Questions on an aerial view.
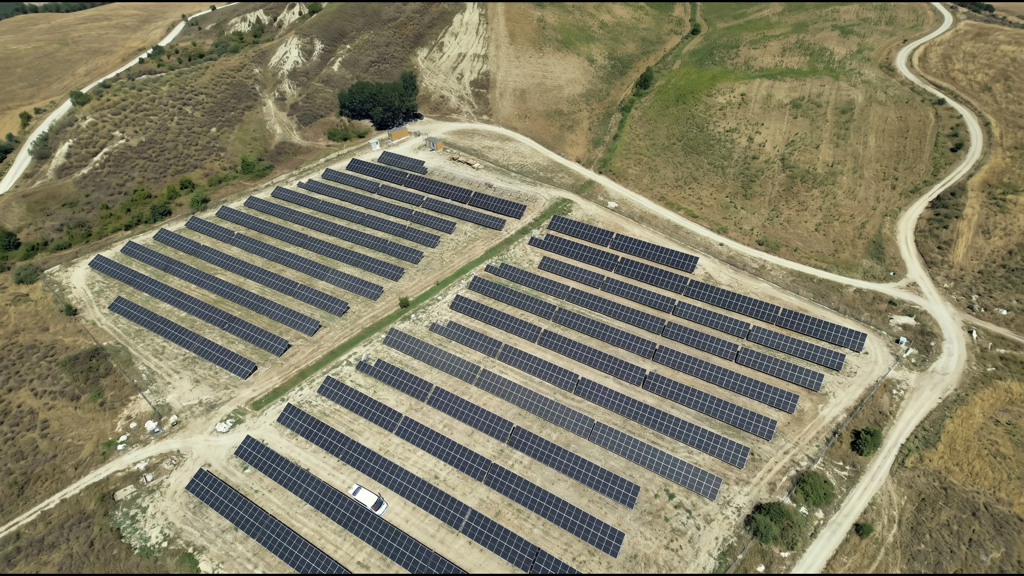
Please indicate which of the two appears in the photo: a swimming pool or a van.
van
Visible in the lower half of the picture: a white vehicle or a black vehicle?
white vehicle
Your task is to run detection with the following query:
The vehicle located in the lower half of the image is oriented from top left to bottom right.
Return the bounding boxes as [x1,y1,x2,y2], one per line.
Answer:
[347,480,390,514]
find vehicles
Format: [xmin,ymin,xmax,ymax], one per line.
[413,111,425,117]
[347,480,390,514]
